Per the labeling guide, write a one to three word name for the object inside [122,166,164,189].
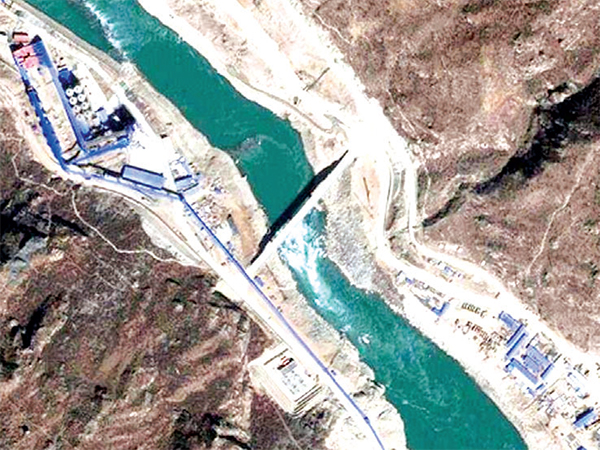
building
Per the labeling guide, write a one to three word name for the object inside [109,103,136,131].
building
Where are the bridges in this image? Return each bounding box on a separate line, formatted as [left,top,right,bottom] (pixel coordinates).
[240,136,367,274]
